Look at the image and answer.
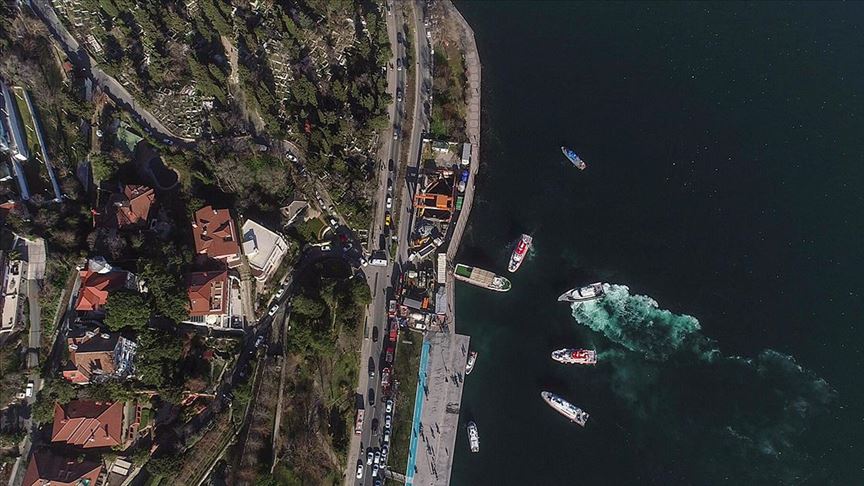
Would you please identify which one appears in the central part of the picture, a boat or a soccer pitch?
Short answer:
boat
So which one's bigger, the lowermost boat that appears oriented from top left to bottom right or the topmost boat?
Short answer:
the lowermost boat that appears oriented from top left to bottom right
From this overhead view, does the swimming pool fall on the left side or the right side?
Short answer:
left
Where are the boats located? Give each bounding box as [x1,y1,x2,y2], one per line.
[467,423,480,453]
[543,394,590,425]
[510,234,532,272]
[553,349,597,364]
[467,352,478,375]
[456,263,512,290]
[559,283,607,300]
[562,146,587,170]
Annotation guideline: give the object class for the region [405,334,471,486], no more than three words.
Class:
pier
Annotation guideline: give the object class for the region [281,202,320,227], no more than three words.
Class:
house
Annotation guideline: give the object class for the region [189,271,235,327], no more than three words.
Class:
house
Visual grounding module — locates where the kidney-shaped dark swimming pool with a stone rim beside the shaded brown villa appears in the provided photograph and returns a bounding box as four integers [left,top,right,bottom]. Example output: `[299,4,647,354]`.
[148,155,184,192]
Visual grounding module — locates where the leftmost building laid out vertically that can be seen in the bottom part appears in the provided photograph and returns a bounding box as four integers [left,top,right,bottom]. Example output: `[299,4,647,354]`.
[0,260,33,332]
